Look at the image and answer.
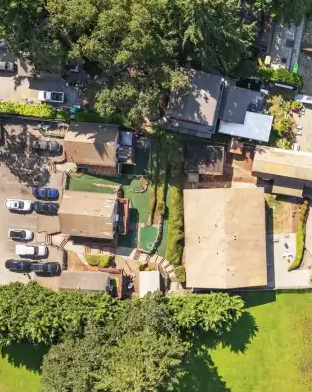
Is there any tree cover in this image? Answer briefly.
Yes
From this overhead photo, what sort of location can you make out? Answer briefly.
residential area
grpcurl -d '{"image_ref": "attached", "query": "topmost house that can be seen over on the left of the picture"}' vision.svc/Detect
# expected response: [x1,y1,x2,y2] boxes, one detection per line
[63,122,121,166]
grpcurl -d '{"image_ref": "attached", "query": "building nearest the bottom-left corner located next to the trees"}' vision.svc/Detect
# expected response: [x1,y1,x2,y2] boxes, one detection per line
[59,270,112,294]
